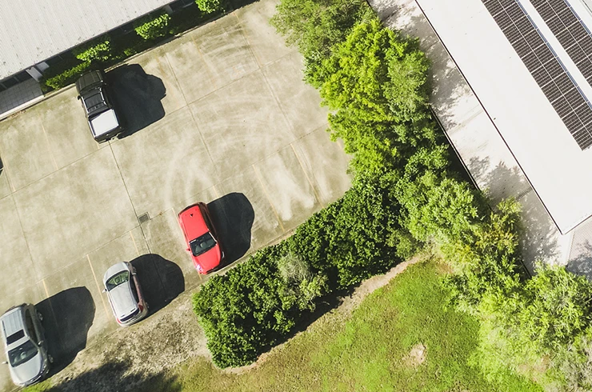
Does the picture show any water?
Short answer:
No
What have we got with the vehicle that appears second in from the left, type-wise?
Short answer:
truck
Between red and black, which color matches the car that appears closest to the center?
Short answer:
red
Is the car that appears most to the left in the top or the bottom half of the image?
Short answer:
bottom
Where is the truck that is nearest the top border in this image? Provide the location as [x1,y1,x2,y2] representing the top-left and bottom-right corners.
[66,72,118,145]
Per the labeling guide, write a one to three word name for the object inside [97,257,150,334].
car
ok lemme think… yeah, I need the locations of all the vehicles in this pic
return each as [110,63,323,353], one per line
[0,300,50,390]
[97,257,150,334]
[169,201,225,276]
[66,72,118,145]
